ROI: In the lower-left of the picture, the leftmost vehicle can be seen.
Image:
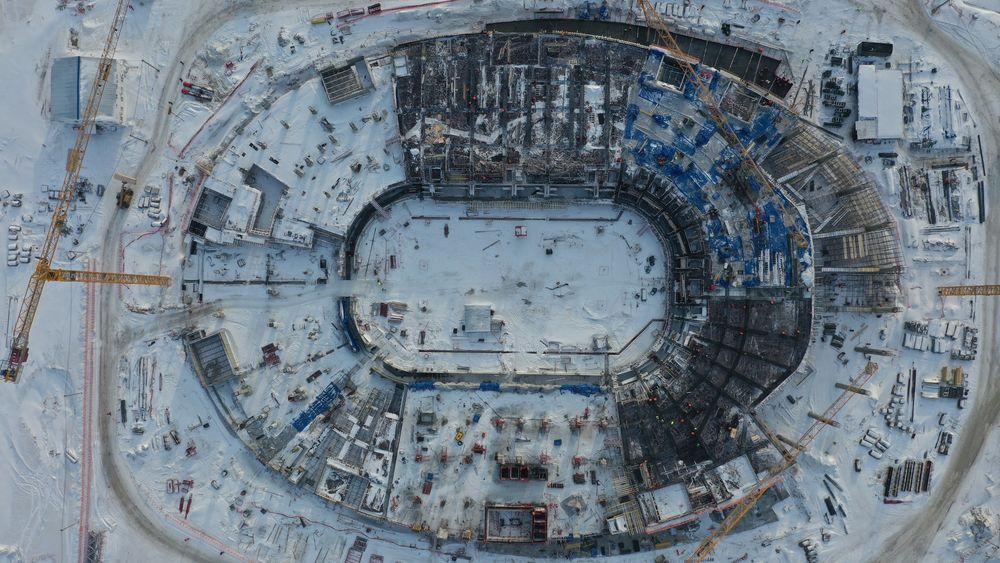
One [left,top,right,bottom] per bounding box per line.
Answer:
[62,446,76,459]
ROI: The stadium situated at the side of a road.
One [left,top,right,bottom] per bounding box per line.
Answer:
[179,33,823,560]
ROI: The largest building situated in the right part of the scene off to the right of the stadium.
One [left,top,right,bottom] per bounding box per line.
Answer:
[849,64,903,143]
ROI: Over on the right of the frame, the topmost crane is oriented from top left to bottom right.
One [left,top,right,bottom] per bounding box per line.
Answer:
[637,0,812,250]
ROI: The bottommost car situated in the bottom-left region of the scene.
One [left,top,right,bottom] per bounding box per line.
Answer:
[208,478,222,491]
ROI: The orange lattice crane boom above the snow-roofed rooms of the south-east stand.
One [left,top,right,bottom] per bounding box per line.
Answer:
[683,358,877,563]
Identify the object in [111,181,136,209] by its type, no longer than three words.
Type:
work vehicle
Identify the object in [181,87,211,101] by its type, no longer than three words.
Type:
vehicle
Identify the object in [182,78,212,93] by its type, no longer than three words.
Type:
vehicle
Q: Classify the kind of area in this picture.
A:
sports ground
